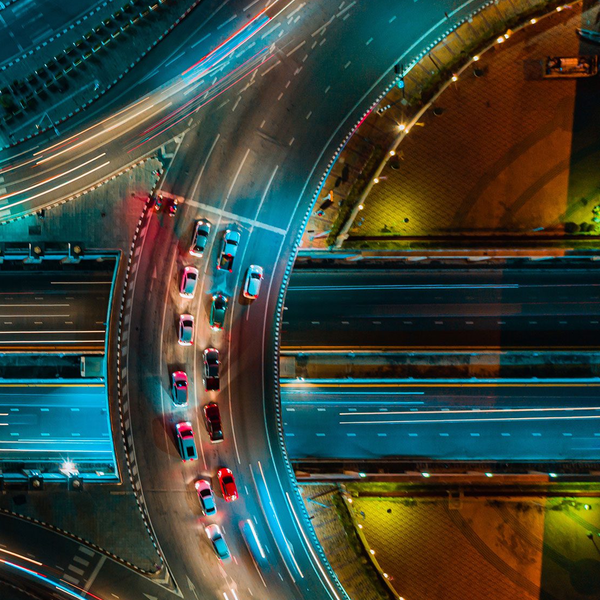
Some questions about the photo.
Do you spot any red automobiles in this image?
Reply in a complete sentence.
Yes, a red automobile can be made out from above.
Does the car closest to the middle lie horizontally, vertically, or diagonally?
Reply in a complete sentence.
In this picture, the car closest to the middle is oriented vertically.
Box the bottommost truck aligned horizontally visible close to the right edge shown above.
[547,54,600,76]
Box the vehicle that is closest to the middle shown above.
[243,265,263,300]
